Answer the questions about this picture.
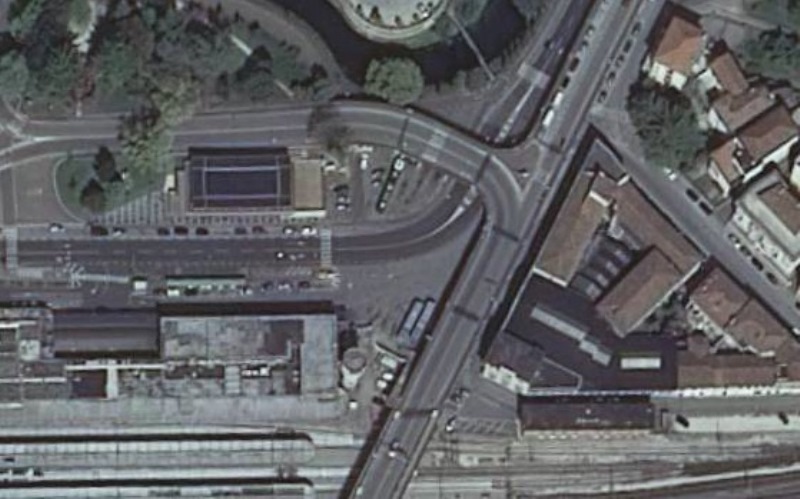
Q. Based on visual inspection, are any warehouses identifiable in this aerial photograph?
Yes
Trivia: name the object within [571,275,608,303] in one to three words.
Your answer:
shed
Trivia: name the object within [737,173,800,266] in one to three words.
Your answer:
building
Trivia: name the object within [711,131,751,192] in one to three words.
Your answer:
house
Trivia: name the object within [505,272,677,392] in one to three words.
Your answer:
warehouse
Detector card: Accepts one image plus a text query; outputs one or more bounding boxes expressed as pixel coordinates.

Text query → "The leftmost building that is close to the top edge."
[642,14,708,93]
